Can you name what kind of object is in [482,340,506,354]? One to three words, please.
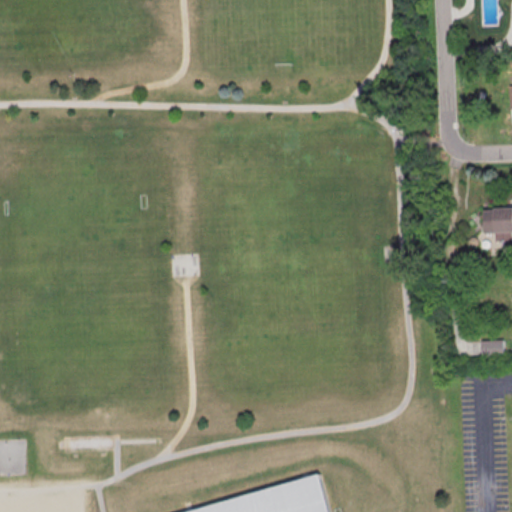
building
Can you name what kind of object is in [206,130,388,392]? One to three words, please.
sports field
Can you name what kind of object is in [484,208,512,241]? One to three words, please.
house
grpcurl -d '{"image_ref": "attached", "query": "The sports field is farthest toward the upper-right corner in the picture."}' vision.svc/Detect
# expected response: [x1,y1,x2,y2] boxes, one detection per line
[204,0,378,68]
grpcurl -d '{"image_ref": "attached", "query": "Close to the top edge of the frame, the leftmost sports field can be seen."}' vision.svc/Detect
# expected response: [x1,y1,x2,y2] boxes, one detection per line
[0,0,140,62]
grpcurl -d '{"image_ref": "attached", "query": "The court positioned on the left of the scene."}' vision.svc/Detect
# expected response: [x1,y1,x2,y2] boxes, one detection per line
[0,439,27,476]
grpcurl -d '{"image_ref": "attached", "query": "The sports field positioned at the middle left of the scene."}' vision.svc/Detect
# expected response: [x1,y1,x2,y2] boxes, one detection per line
[2,137,148,272]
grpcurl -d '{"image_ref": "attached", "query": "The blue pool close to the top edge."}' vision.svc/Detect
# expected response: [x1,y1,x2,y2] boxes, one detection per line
[482,0,504,27]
